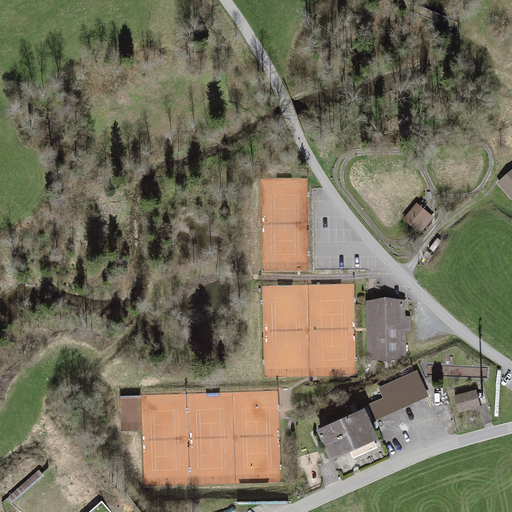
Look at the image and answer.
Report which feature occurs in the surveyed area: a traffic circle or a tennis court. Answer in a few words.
tennis court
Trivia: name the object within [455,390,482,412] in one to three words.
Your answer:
house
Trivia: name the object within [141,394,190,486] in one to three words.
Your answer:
tennis court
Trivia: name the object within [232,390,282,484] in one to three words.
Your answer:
tennis court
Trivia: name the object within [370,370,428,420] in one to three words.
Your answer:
building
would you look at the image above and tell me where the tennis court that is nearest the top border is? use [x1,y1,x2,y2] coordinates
[260,178,309,271]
